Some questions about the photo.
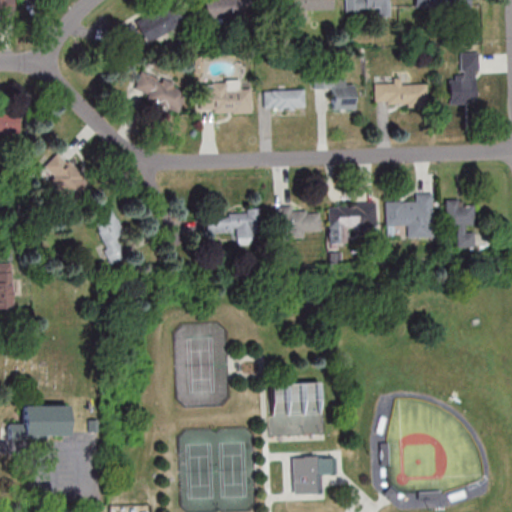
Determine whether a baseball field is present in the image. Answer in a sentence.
Yes, there is a baseball field in the image.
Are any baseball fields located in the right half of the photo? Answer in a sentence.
Yes, a baseball field is visible in the right half of the photo.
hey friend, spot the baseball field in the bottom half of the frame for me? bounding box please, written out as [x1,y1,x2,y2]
[388,398,482,492]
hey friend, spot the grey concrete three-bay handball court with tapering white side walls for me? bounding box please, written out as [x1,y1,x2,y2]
[268,382,324,434]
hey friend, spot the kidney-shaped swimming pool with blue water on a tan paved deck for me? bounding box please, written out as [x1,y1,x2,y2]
[208,60,236,77]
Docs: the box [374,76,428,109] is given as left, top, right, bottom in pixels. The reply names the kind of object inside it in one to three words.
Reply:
house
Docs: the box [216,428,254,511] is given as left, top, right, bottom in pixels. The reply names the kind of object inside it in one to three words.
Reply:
tennis court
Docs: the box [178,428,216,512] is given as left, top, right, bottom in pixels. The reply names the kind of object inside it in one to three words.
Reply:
tennis court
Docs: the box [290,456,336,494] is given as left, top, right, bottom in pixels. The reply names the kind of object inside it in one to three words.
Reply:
building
